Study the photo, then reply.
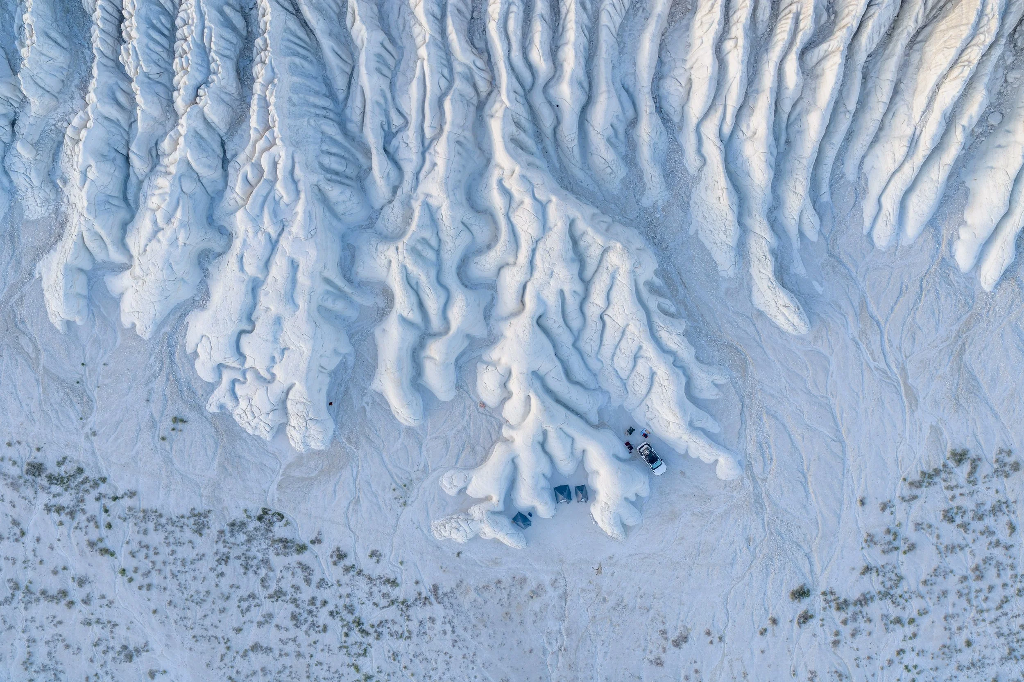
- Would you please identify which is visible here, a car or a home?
car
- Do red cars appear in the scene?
No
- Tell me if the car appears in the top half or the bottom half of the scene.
bottom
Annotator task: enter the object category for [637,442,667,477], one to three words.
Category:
car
